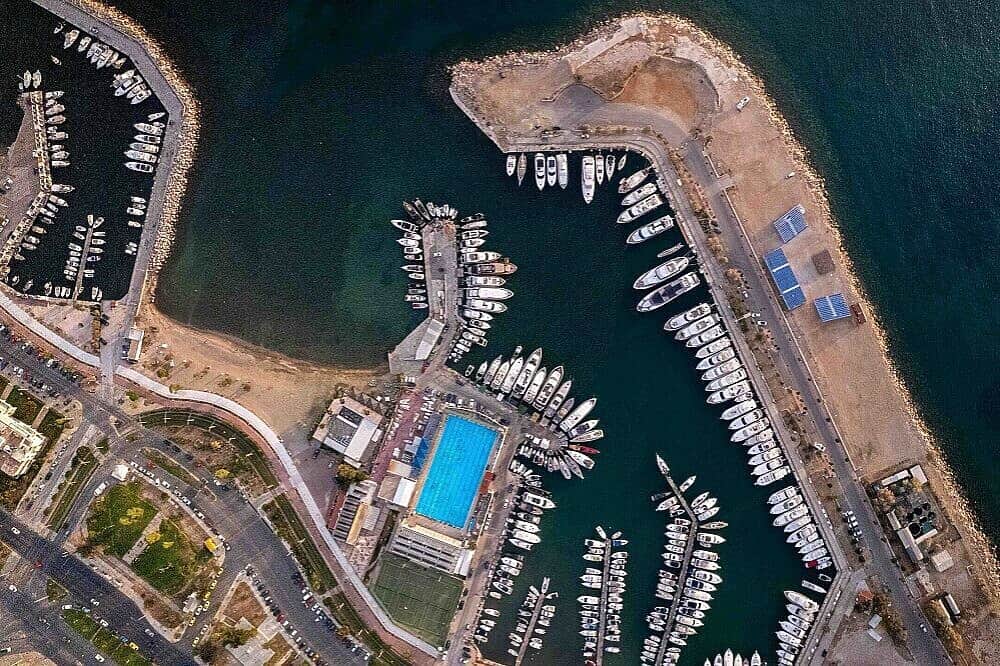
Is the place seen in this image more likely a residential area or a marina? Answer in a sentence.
It's a marina.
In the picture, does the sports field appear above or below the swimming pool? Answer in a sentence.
The sports field appears below the swimming pool in the picture.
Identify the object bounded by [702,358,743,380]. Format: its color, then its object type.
white boat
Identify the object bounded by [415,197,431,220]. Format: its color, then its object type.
gray boat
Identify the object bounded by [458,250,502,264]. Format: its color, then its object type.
white boat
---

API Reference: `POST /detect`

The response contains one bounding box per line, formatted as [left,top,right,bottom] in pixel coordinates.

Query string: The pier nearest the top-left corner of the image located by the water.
[0,92,40,245]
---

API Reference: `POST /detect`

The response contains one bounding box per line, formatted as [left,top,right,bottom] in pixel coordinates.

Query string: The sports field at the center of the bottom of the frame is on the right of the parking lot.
[367,551,466,654]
